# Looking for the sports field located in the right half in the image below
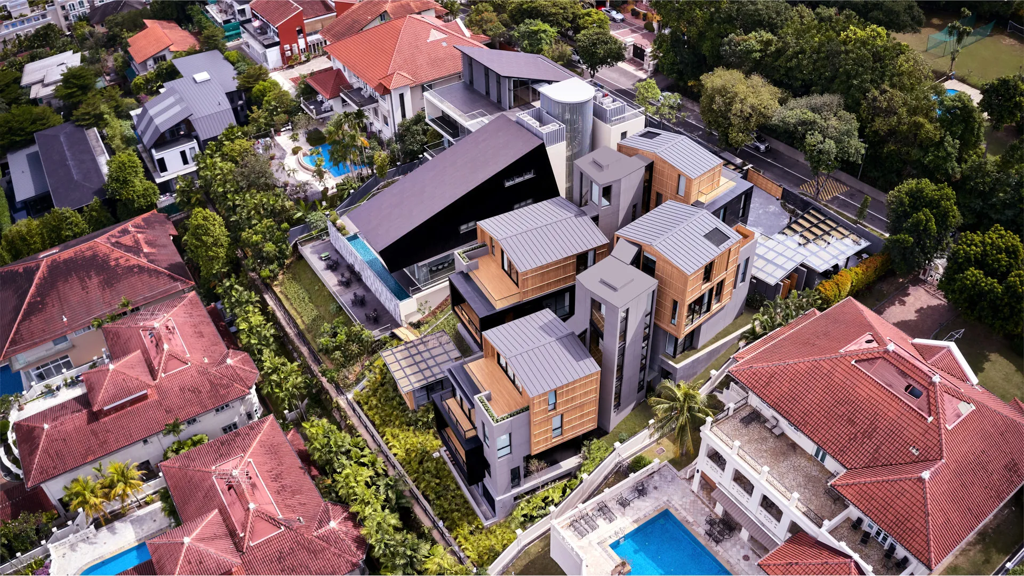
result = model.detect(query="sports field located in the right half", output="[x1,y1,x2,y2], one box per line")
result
[894,1,1024,134]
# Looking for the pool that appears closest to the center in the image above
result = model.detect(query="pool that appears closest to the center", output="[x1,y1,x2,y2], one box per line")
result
[329,222,419,327]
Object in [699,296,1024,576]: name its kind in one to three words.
house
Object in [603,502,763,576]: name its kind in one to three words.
swimming pool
